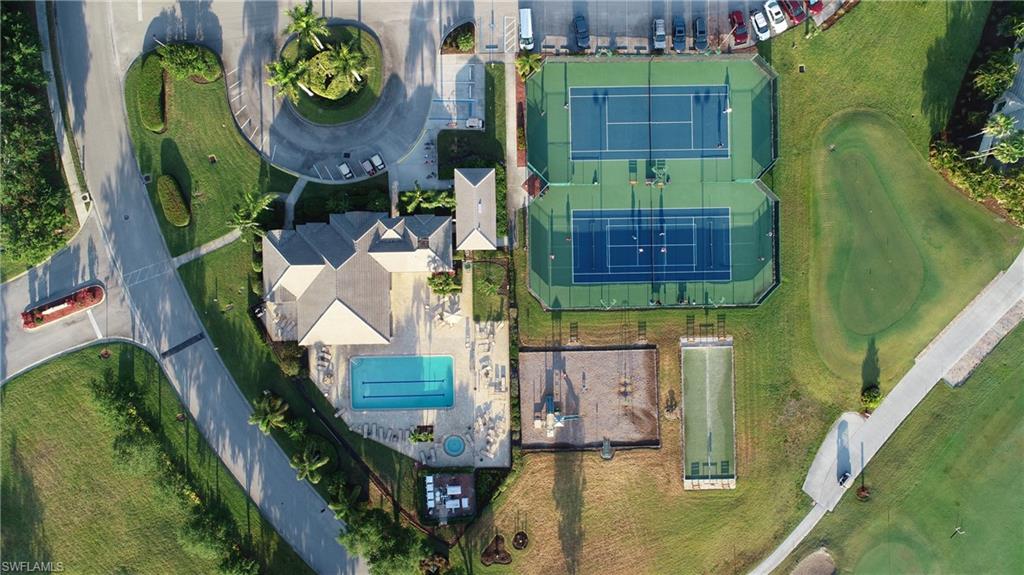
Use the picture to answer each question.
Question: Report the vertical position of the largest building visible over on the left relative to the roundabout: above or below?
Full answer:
The largest building visible over on the left appears below the roundabout in the picture.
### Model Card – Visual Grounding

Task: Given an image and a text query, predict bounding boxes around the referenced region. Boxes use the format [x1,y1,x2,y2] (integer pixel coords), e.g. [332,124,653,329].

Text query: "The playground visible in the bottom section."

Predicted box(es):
[519,348,660,451]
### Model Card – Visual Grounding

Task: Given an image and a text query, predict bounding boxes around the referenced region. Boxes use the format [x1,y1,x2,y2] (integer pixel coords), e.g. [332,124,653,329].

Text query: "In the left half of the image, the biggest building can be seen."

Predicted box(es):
[262,211,453,345]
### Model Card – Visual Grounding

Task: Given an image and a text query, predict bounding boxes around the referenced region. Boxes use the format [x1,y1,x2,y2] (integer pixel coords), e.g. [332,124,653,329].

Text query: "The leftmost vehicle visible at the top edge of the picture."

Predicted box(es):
[518,4,536,48]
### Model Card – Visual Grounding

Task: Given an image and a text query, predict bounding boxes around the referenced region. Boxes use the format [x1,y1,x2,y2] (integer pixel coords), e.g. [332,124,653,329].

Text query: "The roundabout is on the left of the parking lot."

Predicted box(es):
[279,19,384,125]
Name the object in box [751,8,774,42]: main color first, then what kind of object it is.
white car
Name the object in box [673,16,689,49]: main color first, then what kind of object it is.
blue car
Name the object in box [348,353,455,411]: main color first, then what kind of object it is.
blue swimming pool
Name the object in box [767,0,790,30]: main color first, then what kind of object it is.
white car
